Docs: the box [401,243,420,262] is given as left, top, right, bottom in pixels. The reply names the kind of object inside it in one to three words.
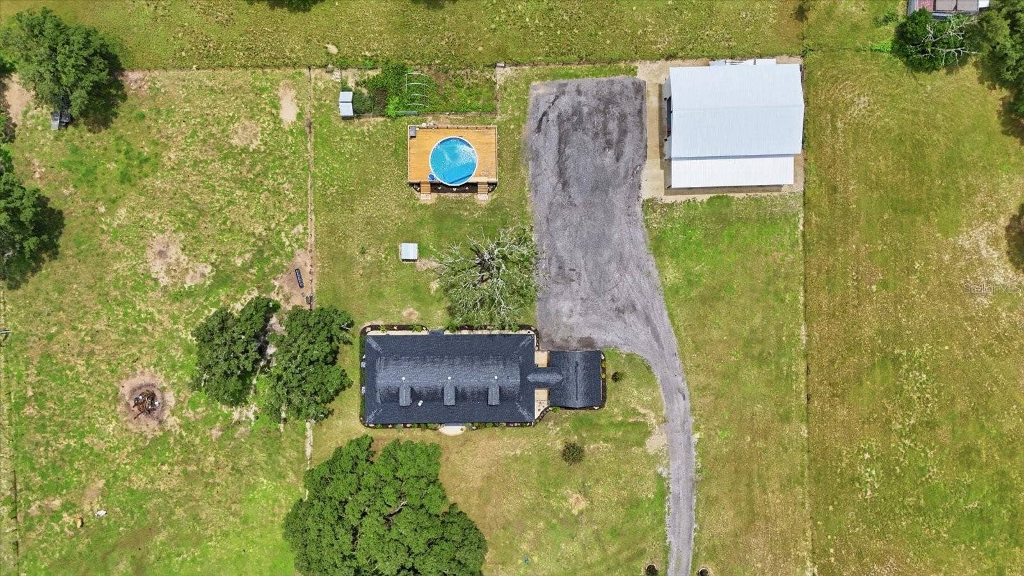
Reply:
shed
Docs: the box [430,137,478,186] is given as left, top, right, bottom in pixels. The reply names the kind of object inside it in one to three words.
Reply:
swimming pool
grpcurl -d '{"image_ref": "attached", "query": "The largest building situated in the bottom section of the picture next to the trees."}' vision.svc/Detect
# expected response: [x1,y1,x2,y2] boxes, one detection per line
[365,330,535,427]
